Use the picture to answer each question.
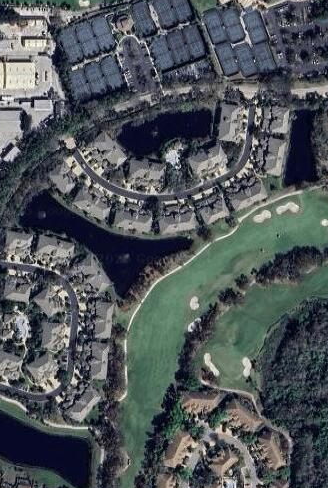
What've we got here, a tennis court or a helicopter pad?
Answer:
tennis court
